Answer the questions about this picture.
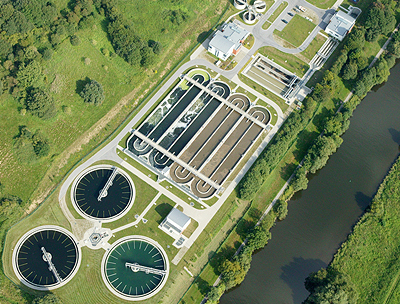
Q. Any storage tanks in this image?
Yes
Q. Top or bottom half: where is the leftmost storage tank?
bottom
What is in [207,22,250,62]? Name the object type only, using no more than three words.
building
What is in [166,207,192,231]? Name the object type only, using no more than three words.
building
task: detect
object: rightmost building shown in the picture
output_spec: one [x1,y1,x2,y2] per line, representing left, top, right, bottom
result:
[323,10,357,44]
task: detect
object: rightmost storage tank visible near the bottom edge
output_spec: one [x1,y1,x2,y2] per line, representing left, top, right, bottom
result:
[101,235,171,302]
